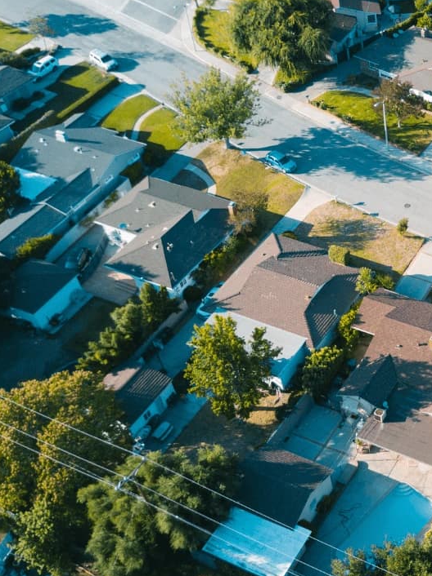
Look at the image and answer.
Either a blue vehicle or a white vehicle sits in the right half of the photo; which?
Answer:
blue vehicle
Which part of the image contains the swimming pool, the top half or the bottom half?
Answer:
bottom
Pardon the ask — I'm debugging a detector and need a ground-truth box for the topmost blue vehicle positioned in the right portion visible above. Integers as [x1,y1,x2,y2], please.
[263,149,299,172]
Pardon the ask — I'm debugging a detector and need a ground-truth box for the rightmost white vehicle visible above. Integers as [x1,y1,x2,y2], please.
[85,46,120,69]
